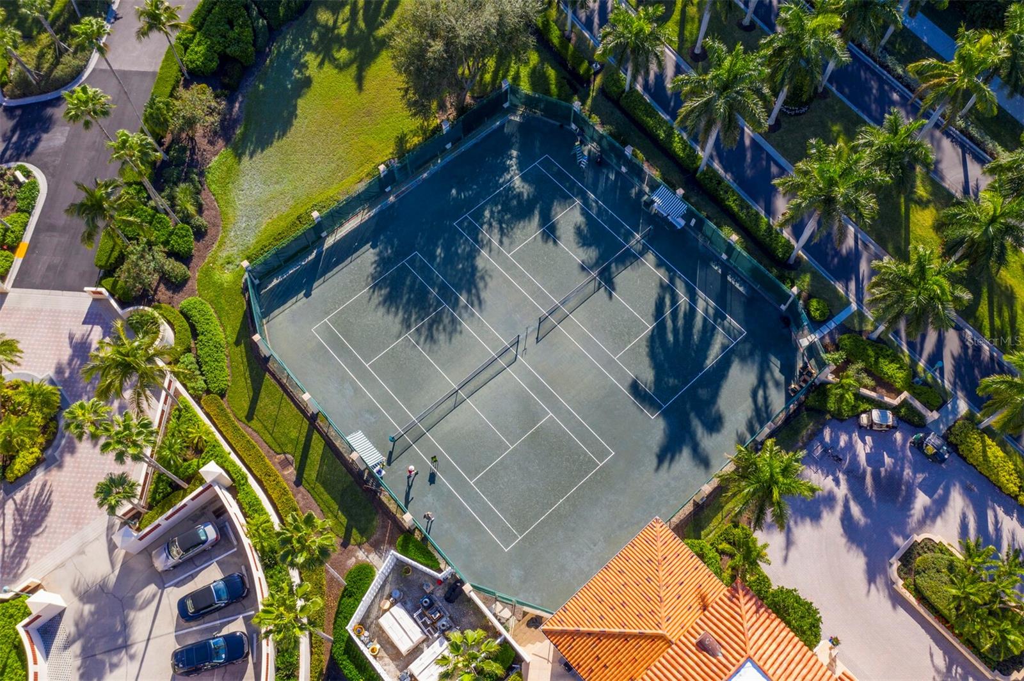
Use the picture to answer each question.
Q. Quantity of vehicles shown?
5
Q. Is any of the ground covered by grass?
Yes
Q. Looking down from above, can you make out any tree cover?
Yes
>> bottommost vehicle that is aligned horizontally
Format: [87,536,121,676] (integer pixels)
[174,633,252,676]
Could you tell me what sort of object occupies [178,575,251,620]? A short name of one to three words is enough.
car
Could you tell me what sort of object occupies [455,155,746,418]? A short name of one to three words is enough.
tennis court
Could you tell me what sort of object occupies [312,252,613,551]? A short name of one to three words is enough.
tennis court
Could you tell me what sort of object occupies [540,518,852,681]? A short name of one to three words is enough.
building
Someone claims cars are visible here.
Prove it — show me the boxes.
[178,575,251,620]
[155,522,224,574]
[174,633,252,676]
